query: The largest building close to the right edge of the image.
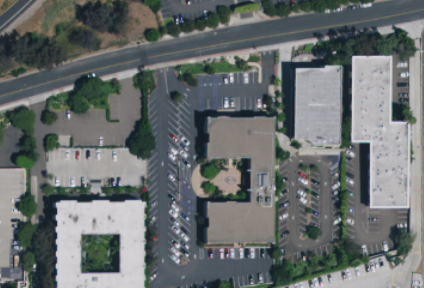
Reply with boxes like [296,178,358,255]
[347,56,409,208]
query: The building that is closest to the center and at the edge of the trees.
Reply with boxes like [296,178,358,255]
[204,115,275,244]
